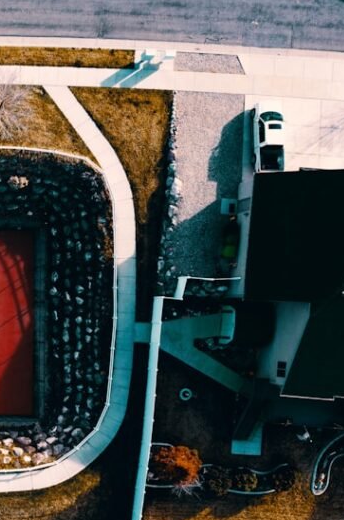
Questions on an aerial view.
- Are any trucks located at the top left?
No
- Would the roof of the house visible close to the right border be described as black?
Yes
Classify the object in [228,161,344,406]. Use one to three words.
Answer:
house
